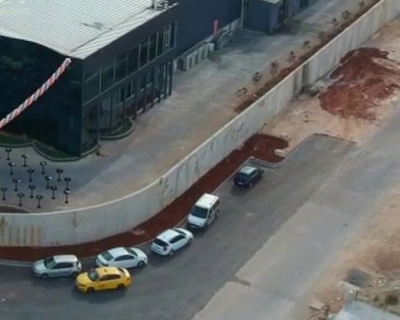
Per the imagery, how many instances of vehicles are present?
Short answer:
6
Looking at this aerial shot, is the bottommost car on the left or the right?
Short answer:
left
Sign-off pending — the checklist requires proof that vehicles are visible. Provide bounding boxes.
[76,267,132,293]
[33,255,82,279]
[185,192,225,227]
[147,225,197,255]
[96,248,149,270]
[230,166,268,189]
